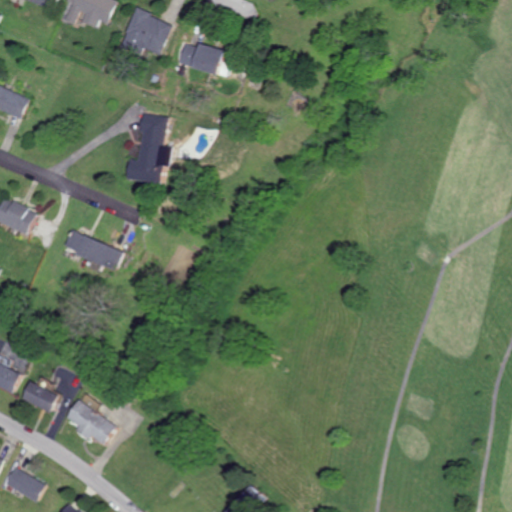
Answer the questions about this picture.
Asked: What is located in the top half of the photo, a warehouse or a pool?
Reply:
pool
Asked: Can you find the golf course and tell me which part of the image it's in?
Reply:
right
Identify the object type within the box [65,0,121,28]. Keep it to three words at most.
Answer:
house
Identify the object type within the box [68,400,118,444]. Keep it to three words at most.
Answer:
house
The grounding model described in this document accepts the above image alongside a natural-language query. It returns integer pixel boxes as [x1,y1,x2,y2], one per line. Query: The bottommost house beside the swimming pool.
[124,112,173,183]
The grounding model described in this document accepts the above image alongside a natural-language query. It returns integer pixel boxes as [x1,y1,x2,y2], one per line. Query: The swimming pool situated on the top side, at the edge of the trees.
[179,126,219,160]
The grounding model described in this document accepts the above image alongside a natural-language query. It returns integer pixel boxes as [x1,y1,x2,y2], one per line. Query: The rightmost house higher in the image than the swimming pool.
[182,43,226,74]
